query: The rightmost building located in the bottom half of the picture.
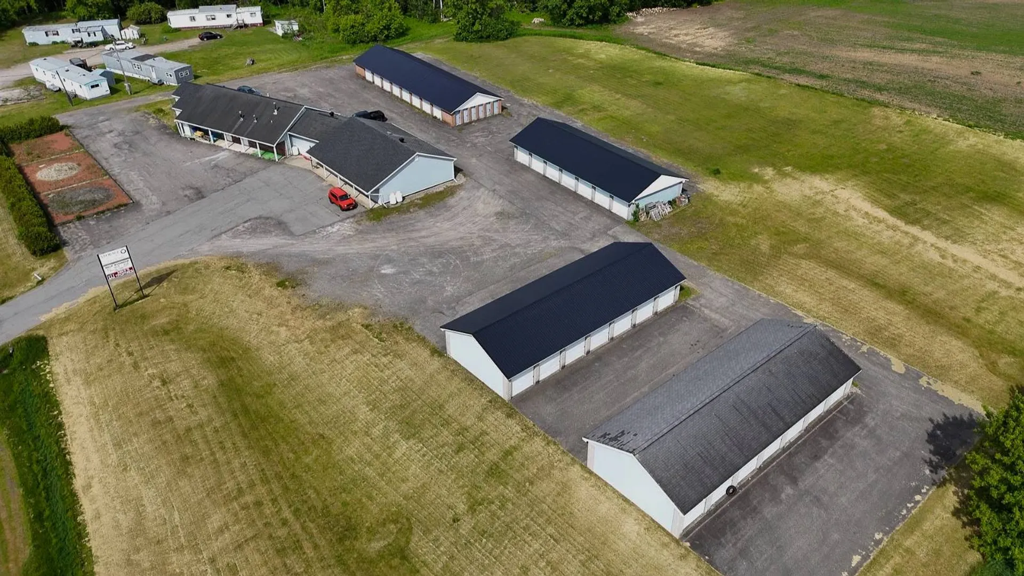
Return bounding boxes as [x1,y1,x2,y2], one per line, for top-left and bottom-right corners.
[583,319,862,538]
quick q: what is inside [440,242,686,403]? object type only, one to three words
building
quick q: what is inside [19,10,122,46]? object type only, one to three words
house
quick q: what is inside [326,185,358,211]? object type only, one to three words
car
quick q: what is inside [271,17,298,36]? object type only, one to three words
shed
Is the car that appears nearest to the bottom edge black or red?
red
